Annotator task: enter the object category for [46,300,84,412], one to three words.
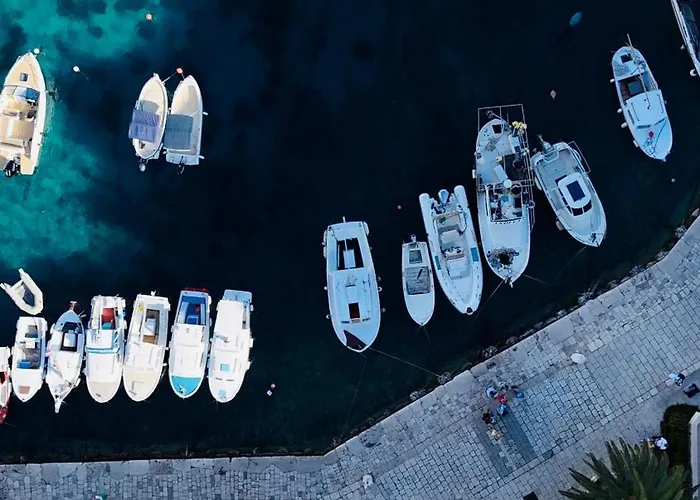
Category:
boat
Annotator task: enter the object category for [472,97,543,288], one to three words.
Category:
boat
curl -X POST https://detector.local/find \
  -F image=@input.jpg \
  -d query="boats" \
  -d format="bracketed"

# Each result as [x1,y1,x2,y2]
[130,72,168,174]
[612,30,671,161]
[204,289,257,404]
[0,267,44,317]
[46,300,84,412]
[0,51,46,185]
[420,176,485,316]
[11,315,49,402]
[120,291,171,404]
[162,74,206,177]
[0,345,13,419]
[165,286,213,400]
[81,295,128,404]
[529,131,604,248]
[400,233,435,327]
[321,215,385,352]
[472,97,543,288]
